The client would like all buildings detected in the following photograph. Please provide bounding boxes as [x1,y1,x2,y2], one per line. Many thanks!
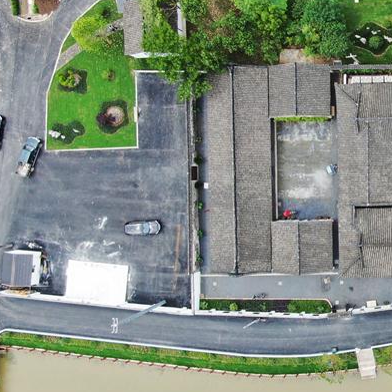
[335,82,392,278]
[121,0,163,62]
[198,59,335,278]
[4,250,43,287]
